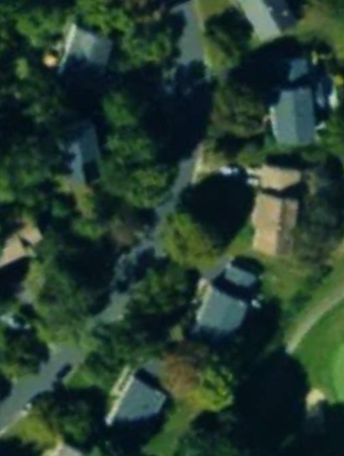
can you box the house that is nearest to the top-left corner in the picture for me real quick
[62,28,113,81]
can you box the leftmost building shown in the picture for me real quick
[0,227,47,272]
